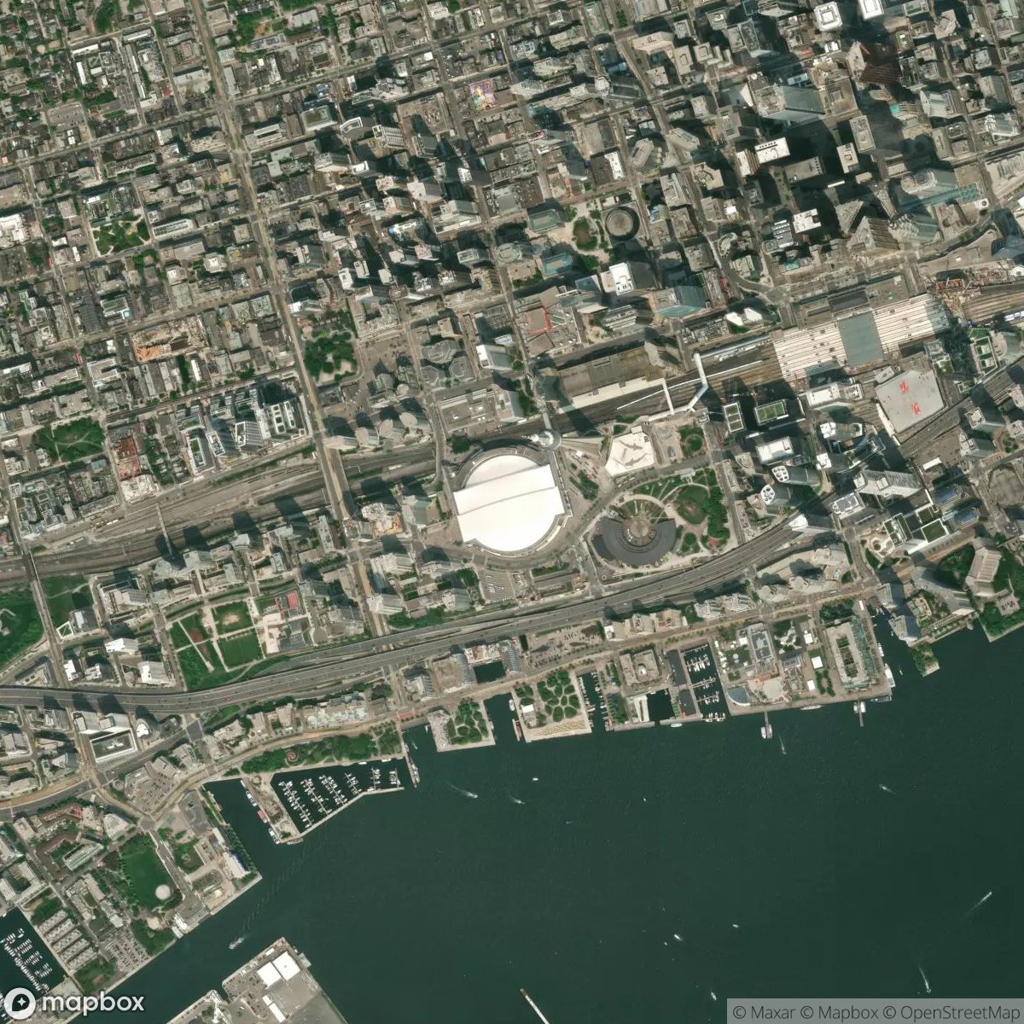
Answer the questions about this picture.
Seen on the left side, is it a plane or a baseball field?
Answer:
baseball field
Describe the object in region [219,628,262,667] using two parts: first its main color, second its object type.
green sports field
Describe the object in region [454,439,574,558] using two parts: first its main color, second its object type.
white stadium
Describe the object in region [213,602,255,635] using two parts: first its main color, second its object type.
green baseball field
